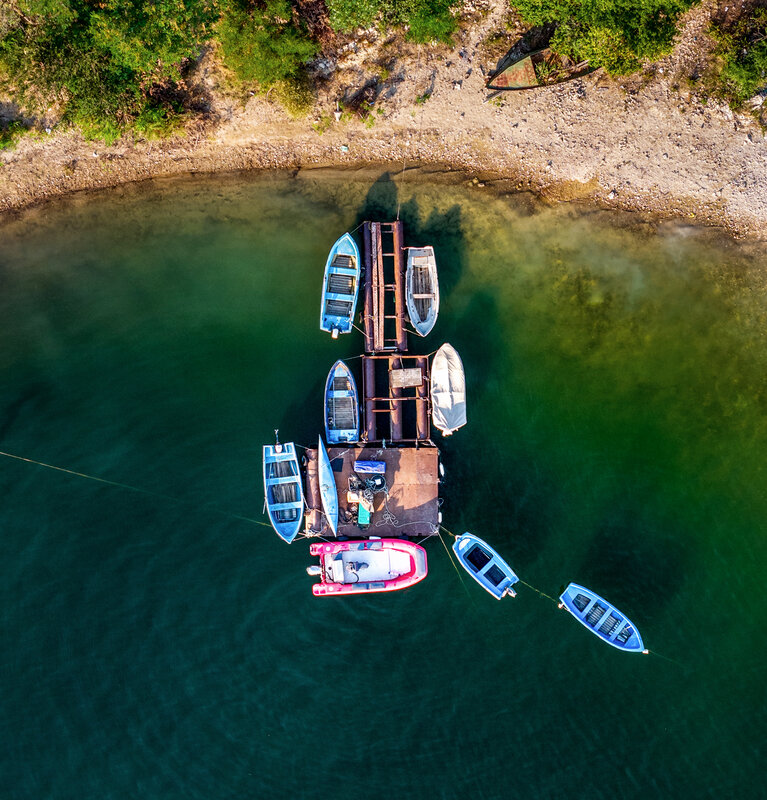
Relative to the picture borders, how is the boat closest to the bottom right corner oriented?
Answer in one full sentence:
The boat closest to the bottom right corner is laid out on a diagonal.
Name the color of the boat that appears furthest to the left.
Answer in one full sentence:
The color of the boat that appears furthest to the left is blue.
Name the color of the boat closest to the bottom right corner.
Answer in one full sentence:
The boat closest to the bottom right corner looks blue in the image.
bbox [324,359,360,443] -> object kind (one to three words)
boat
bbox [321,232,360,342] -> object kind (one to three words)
boat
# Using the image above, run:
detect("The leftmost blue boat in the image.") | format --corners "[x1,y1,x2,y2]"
[261,430,305,544]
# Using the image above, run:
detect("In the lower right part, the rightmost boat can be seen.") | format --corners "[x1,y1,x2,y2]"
[558,582,644,652]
